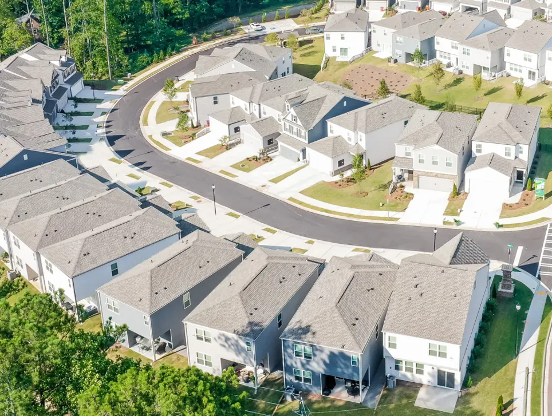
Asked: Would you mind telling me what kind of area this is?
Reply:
residential area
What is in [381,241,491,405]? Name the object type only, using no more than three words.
house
